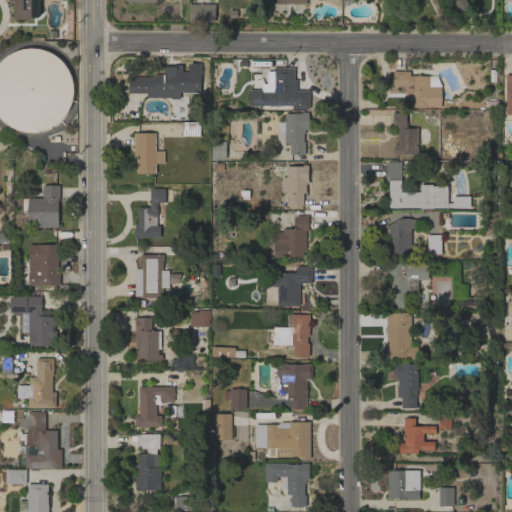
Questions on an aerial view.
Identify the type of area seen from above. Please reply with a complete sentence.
What you see here is a residential area.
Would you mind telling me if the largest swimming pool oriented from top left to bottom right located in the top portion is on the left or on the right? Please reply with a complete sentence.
The largest swimming pool oriented from top left to bottom right located in the top portion sits on the right side.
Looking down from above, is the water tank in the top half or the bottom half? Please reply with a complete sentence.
The top half of the photo is where the water tank is.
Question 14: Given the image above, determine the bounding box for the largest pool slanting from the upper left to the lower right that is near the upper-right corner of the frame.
[440,68,460,92]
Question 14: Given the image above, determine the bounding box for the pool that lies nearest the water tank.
[48,3,63,28]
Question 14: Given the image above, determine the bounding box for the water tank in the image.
[0,48,80,133]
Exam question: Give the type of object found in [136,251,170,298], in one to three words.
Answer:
house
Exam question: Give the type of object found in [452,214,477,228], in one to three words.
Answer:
swimming pool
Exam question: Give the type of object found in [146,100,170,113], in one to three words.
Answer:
swimming pool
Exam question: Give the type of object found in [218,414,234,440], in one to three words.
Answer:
building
